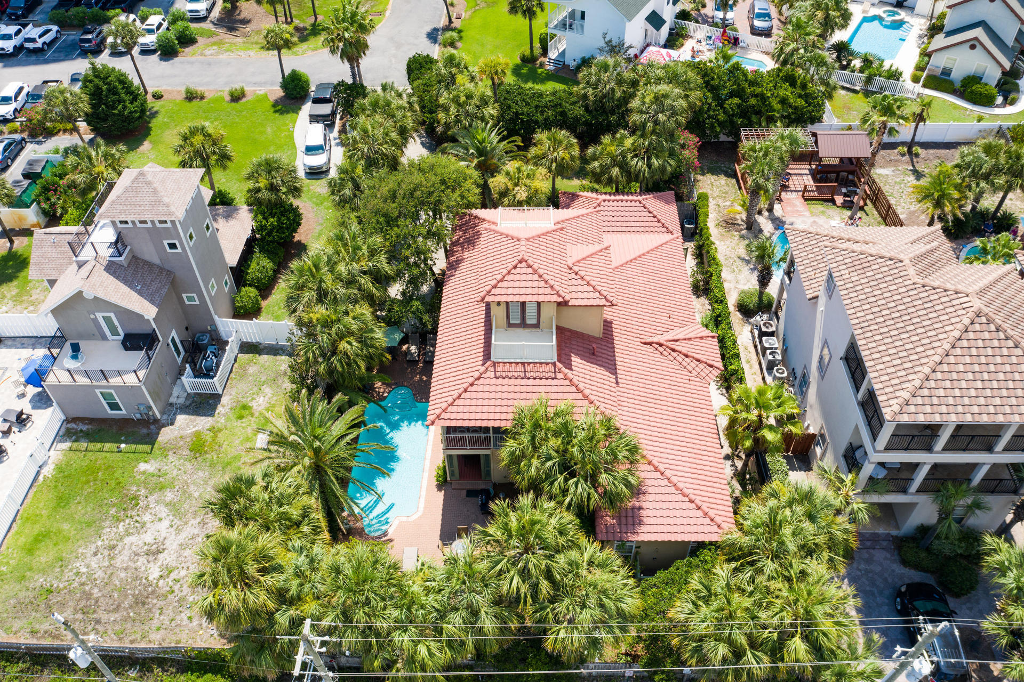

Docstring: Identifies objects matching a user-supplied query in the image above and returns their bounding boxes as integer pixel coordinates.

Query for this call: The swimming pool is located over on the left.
[341,381,433,541]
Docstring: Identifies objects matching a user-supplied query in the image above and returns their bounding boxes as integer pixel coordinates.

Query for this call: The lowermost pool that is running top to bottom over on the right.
[770,229,799,291]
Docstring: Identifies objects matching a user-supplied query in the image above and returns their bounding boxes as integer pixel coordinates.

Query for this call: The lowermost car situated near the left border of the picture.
[0,128,31,166]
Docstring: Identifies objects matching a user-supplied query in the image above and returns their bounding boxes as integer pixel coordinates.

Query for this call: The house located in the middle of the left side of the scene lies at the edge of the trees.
[27,165,260,422]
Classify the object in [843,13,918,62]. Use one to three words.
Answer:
swimming pool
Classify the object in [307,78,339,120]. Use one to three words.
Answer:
truck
